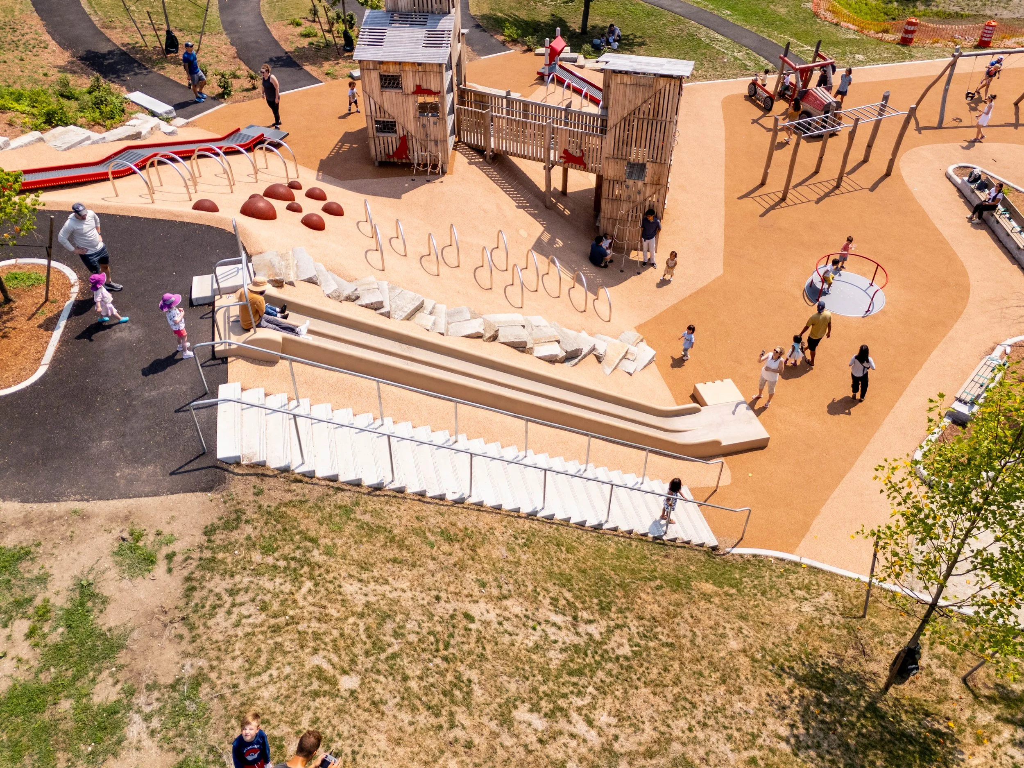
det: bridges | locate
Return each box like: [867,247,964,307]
[453,86,608,212]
